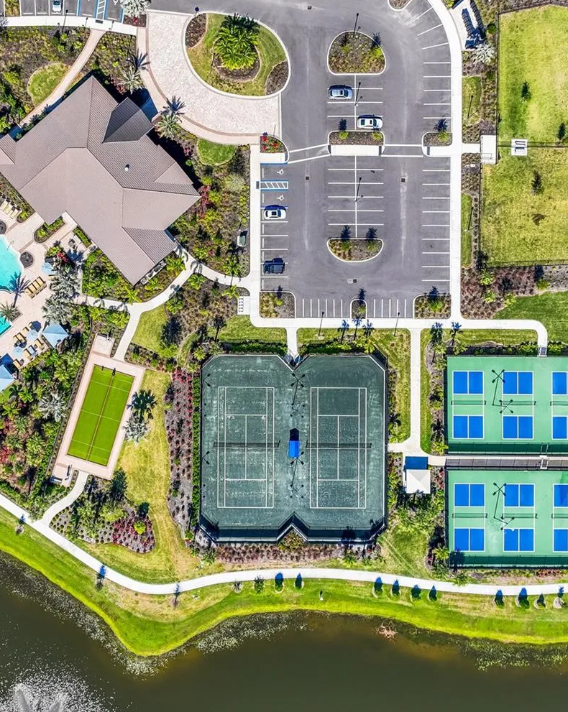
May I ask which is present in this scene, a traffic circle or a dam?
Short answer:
traffic circle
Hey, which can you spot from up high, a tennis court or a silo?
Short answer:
tennis court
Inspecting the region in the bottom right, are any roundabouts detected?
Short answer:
No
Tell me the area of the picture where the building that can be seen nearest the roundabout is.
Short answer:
top left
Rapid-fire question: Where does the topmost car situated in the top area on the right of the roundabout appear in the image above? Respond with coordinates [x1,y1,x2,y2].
[329,86,352,99]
